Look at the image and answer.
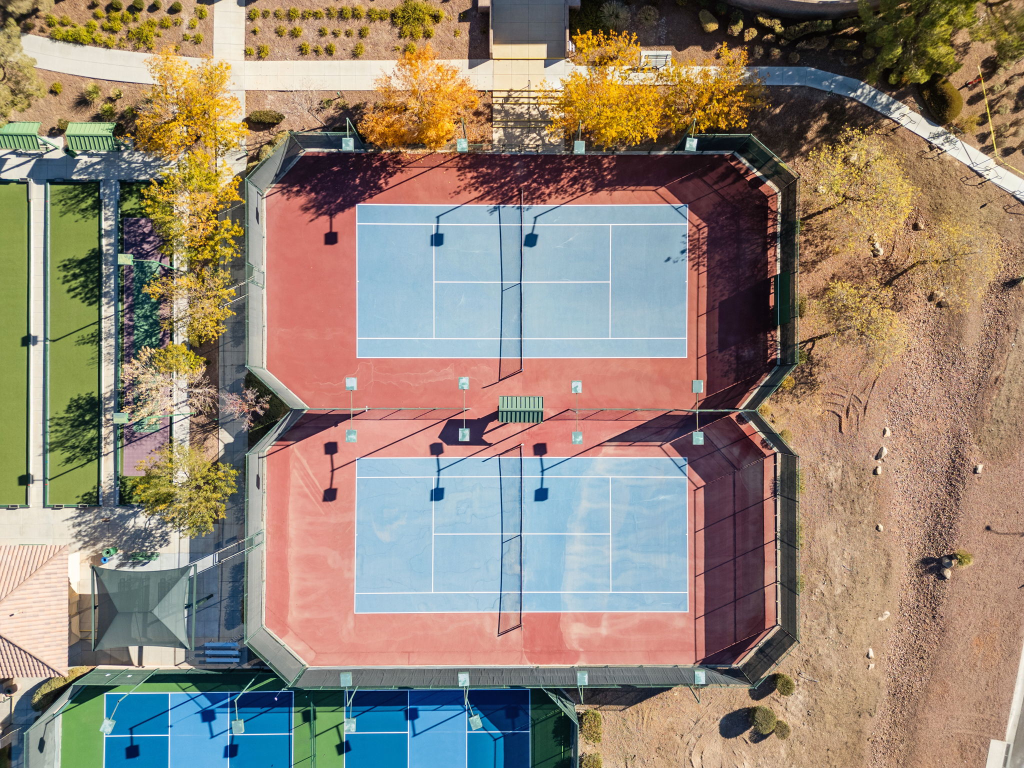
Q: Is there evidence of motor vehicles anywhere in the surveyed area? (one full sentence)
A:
No, I can see no motor vehicle in this picture.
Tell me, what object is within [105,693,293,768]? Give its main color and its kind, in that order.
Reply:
blue sports court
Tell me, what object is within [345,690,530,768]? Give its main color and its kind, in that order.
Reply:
blue sports court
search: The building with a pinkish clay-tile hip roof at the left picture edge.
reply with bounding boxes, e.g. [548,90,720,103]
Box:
[0,544,83,678]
